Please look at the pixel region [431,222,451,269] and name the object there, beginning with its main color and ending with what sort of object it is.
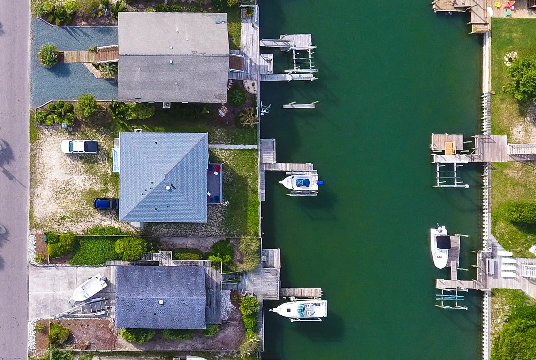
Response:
white boat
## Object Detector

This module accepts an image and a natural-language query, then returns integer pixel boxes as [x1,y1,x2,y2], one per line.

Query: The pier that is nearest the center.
[259,138,316,200]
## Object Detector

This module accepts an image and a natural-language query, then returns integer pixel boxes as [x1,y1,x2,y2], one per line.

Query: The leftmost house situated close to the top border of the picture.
[96,13,244,103]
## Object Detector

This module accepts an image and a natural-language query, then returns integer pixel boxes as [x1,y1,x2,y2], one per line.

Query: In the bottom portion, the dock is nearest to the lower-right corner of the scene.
[431,233,477,289]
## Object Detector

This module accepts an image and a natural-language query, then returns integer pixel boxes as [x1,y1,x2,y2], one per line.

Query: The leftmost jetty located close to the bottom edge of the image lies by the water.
[236,249,323,351]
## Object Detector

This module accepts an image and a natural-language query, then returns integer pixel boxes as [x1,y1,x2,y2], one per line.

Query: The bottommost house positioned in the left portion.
[105,250,238,329]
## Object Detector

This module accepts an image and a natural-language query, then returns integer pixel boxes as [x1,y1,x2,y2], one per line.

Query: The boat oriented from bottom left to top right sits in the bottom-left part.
[72,270,110,300]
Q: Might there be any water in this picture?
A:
Yes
